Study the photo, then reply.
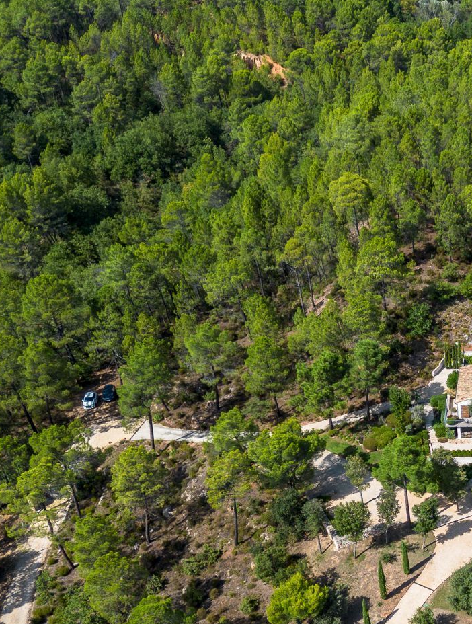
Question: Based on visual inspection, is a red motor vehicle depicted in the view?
No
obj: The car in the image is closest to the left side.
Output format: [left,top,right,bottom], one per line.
[79,391,96,410]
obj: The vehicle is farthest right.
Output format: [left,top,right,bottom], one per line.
[99,383,116,402]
